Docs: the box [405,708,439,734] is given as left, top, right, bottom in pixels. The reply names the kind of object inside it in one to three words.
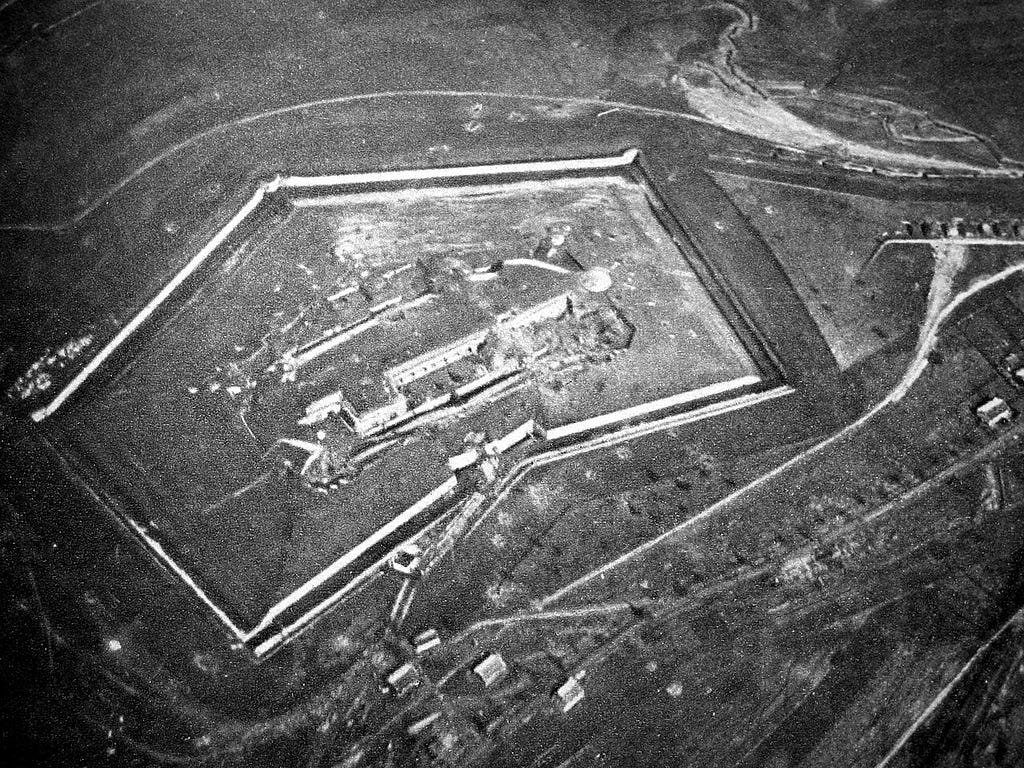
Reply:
shed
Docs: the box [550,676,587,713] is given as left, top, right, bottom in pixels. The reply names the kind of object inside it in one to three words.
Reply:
house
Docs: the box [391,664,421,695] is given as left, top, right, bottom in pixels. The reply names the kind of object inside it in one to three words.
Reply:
house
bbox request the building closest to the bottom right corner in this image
[976,395,1013,427]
